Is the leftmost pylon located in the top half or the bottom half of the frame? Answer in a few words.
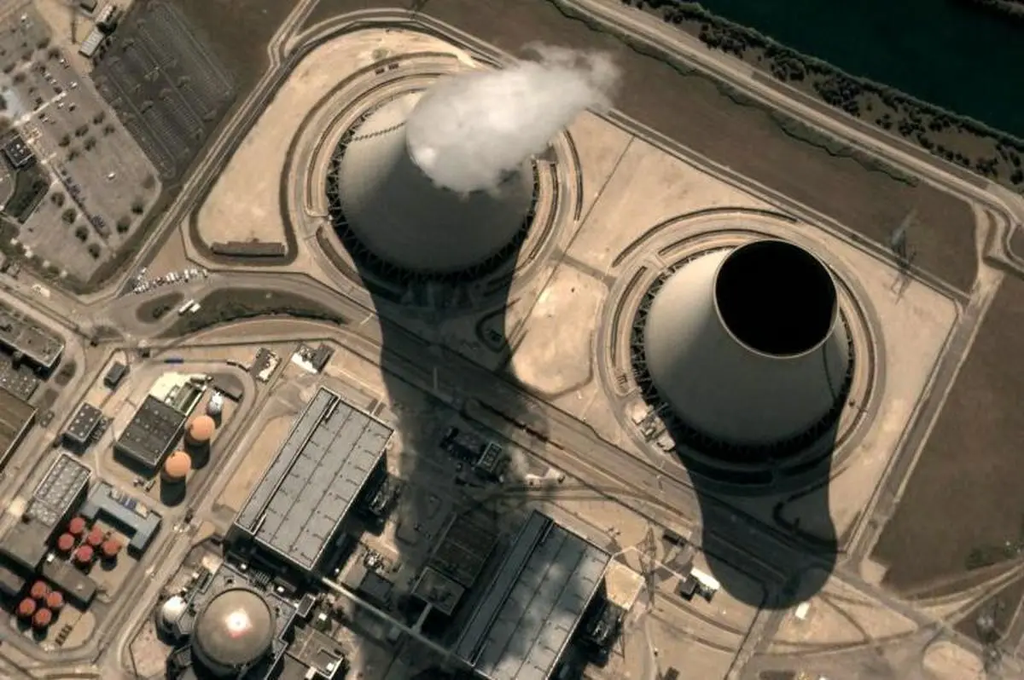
bottom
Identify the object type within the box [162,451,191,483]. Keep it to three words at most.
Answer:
storage tank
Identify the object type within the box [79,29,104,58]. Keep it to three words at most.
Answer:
shed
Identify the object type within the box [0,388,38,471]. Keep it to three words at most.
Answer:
building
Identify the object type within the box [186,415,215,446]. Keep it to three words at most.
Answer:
storage tank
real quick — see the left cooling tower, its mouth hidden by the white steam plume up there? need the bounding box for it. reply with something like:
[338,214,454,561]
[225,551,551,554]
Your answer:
[326,75,539,285]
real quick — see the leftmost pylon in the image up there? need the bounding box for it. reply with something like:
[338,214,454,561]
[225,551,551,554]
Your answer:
[634,529,655,564]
